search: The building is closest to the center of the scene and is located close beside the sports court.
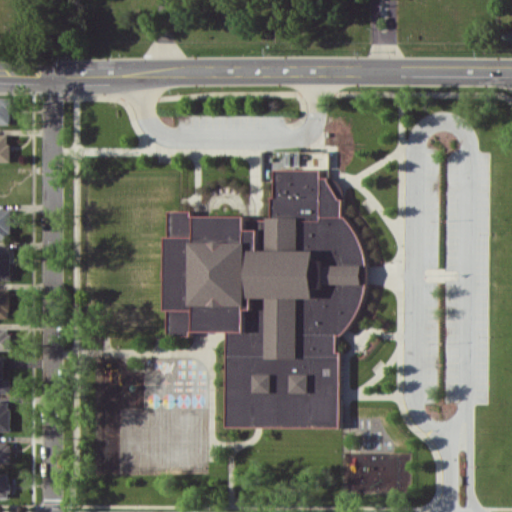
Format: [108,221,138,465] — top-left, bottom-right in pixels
[162,171,366,428]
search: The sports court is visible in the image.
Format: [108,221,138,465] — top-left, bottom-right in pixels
[120,358,208,476]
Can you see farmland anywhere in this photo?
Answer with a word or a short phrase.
No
